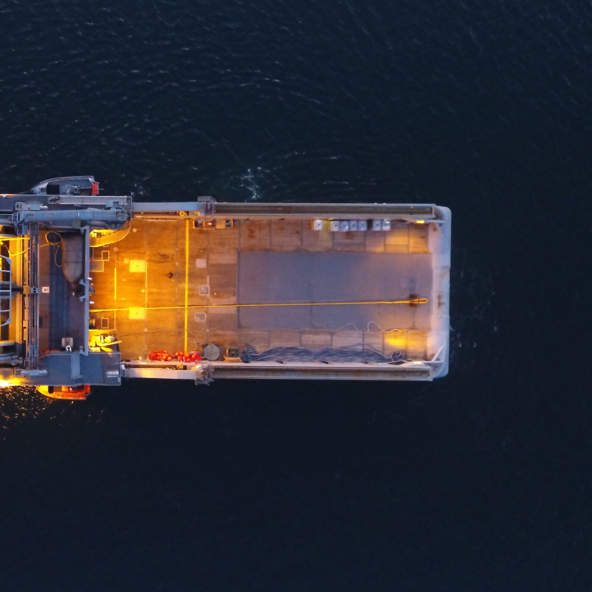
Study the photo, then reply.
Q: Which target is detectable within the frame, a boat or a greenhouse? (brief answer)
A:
boat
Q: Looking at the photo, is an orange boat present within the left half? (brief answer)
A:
Yes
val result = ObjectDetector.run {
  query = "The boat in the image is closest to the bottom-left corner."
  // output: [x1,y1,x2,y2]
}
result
[35,384,91,400]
